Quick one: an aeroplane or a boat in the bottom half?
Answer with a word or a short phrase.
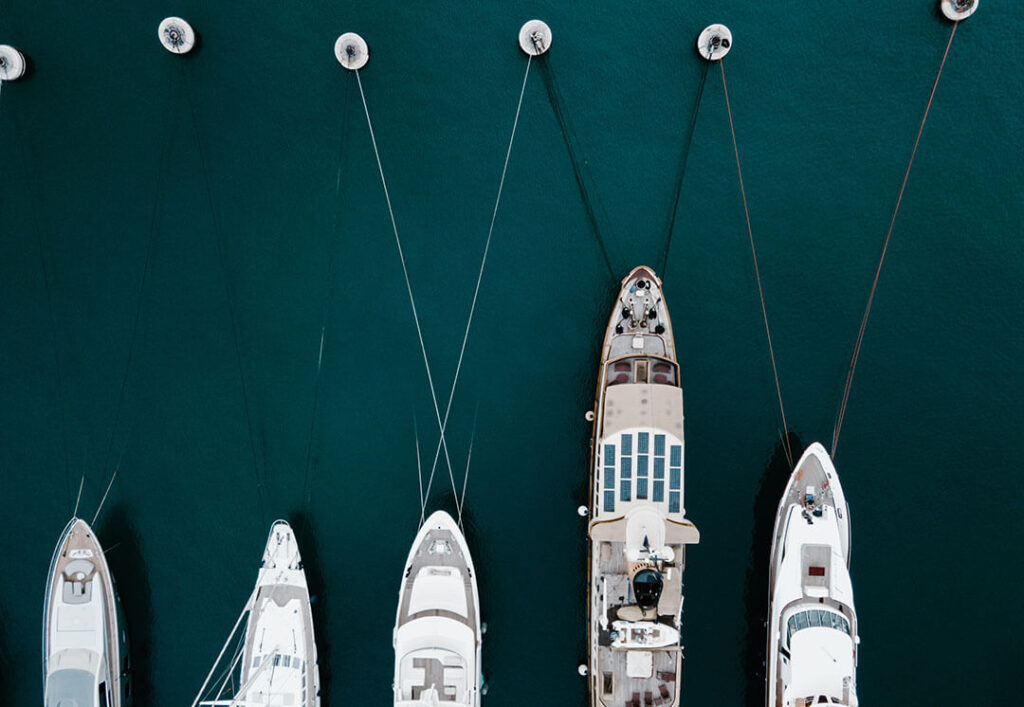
boat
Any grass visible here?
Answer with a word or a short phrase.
No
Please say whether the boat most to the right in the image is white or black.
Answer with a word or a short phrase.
white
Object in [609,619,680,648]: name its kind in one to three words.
boat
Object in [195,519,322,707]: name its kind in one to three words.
boat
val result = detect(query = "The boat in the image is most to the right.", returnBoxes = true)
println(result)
[762,440,863,707]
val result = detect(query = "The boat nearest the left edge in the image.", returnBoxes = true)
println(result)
[41,516,134,707]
